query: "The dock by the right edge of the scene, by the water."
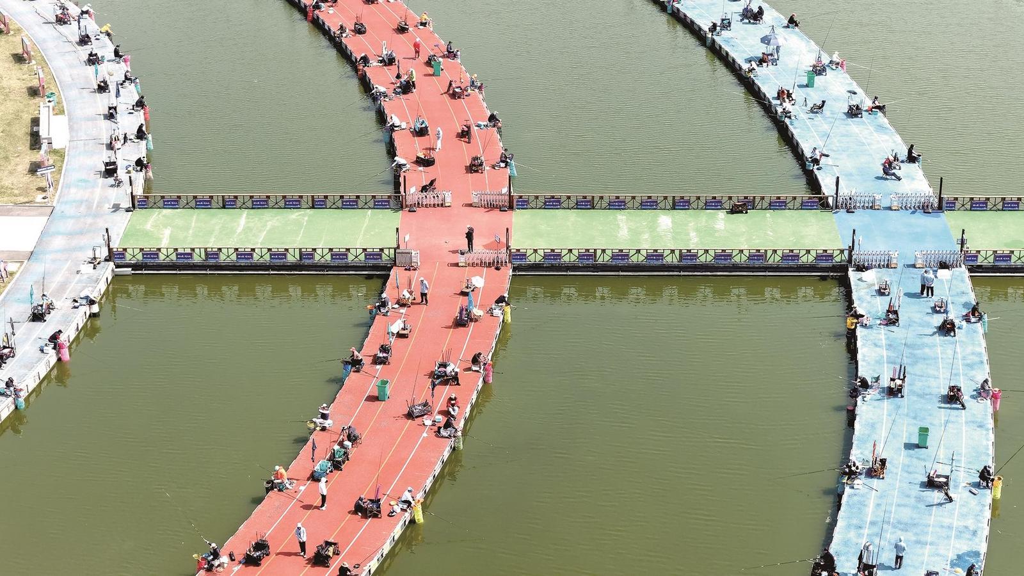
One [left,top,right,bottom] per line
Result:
[656,0,994,576]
